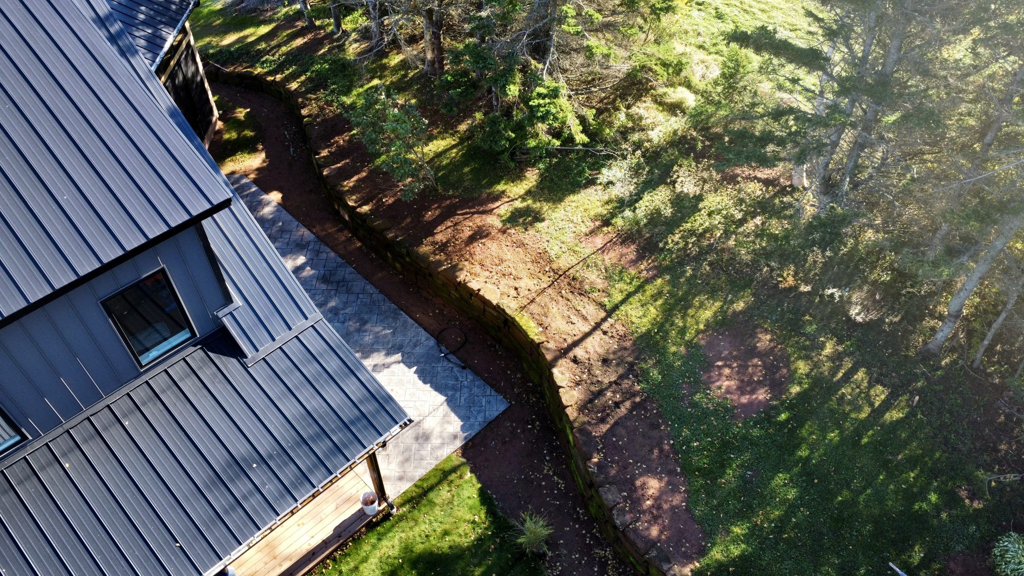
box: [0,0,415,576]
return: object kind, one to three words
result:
house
